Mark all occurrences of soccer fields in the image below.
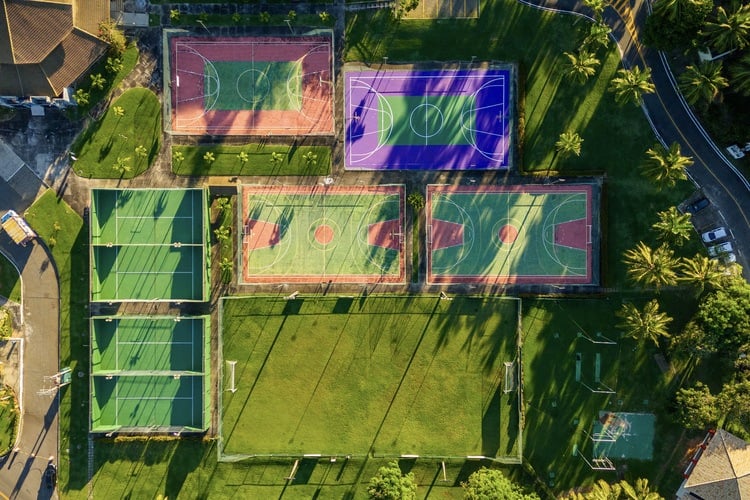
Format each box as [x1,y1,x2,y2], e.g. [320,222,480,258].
[222,298,520,457]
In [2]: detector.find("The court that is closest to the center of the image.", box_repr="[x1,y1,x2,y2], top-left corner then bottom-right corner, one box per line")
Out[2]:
[242,184,406,284]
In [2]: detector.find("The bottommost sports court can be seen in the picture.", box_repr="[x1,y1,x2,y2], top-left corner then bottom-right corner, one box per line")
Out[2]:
[90,372,209,433]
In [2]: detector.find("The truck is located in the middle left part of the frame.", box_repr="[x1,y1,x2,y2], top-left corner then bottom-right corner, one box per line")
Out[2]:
[0,211,32,245]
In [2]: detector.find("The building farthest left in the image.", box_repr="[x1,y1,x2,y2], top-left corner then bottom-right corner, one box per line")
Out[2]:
[0,0,111,97]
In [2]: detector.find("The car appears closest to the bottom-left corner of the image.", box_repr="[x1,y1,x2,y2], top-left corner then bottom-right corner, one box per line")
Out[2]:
[42,463,56,488]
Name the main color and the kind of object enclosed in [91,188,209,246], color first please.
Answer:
green sports court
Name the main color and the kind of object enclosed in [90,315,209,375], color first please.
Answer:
green sports court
